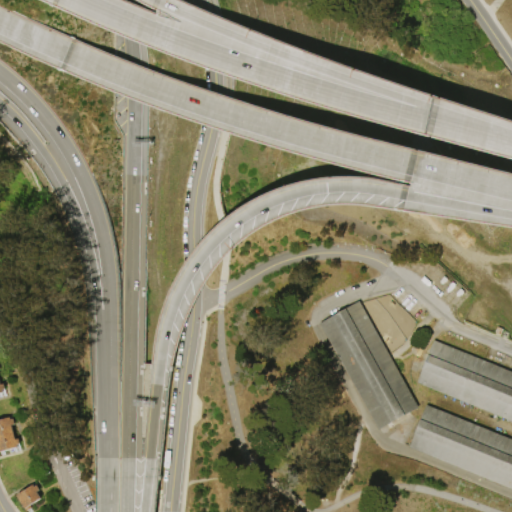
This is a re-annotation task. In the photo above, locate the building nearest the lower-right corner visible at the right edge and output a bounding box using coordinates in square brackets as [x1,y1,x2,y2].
[412,404,512,484]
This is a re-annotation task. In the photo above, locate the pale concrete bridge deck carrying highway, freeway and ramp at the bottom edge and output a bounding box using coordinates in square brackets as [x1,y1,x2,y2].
[96,458,162,512]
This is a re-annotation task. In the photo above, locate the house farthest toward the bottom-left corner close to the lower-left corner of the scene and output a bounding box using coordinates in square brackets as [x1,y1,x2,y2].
[17,484,42,508]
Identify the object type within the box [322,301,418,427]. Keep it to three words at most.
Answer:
building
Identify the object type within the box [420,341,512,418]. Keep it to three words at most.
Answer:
building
